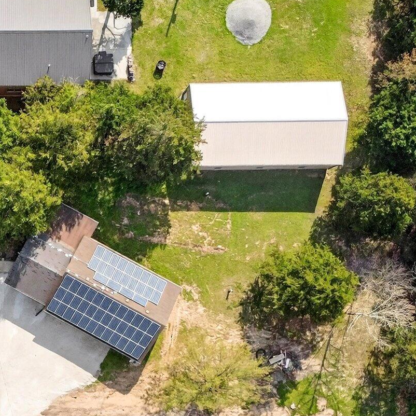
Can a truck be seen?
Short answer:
No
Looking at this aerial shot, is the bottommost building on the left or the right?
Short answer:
left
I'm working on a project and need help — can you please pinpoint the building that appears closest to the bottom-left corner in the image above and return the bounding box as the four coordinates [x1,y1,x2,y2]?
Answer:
[4,202,182,364]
